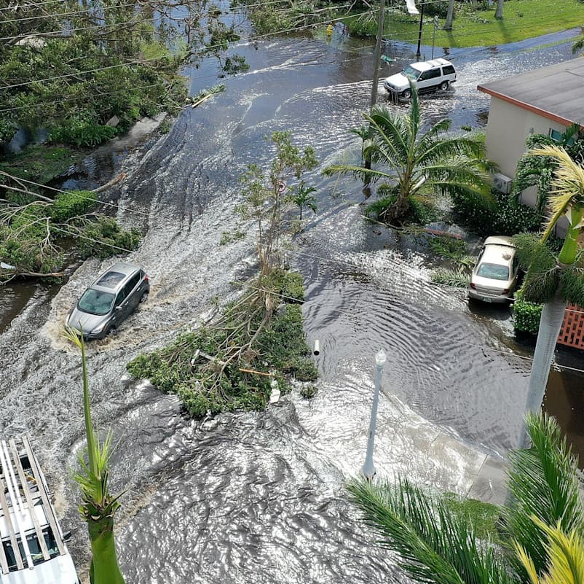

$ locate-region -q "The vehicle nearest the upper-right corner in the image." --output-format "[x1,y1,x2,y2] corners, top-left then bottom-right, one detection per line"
[380,52,463,98]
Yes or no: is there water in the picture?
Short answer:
Yes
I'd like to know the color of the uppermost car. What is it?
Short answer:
white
